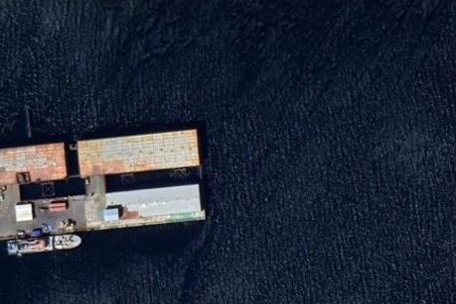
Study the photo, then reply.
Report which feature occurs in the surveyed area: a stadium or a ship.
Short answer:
ship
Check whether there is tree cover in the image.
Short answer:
No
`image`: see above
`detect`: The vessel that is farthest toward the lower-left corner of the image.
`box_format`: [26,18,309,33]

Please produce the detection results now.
[7,236,83,258]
